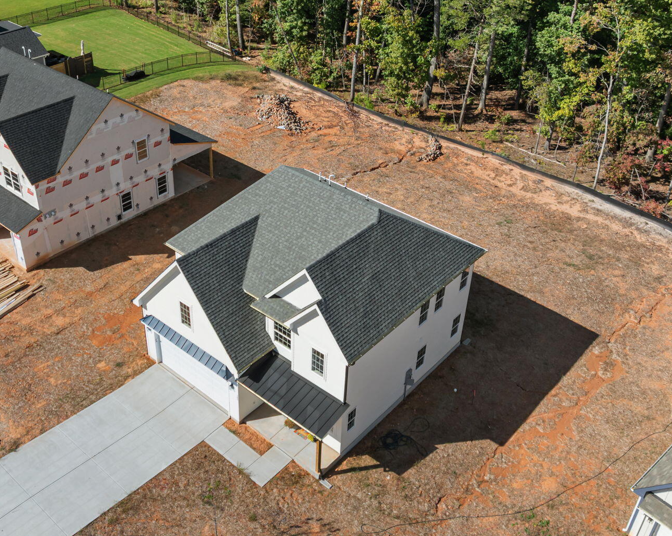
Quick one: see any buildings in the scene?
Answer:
Yes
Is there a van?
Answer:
No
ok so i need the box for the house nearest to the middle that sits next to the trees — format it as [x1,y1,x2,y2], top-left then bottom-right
[133,165,492,479]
